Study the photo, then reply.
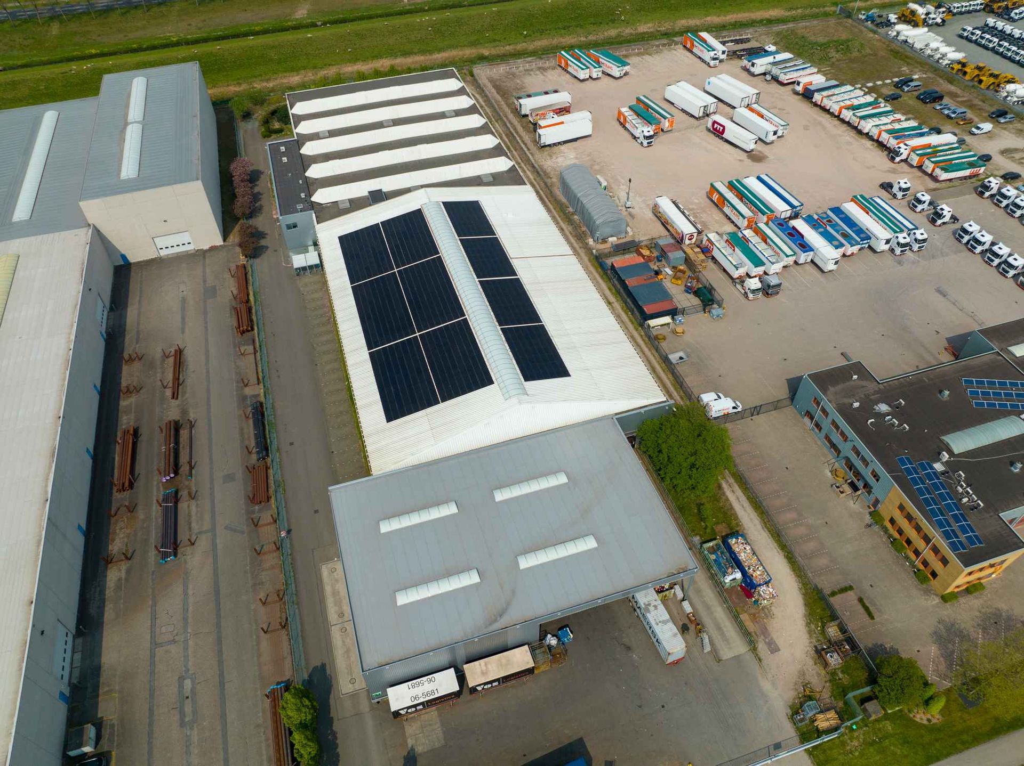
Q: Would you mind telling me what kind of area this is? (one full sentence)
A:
The area seen from above is an industrial area.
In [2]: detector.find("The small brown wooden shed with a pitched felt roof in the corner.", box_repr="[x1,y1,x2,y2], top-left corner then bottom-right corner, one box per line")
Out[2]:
[858,696,888,724]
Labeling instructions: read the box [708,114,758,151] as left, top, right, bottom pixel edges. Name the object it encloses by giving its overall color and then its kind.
white trailer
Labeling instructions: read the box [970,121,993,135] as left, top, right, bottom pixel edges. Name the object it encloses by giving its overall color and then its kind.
white vehicle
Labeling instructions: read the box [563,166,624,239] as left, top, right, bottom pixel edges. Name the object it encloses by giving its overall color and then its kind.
gray tent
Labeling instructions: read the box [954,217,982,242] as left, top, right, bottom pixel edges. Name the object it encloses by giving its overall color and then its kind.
white truck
